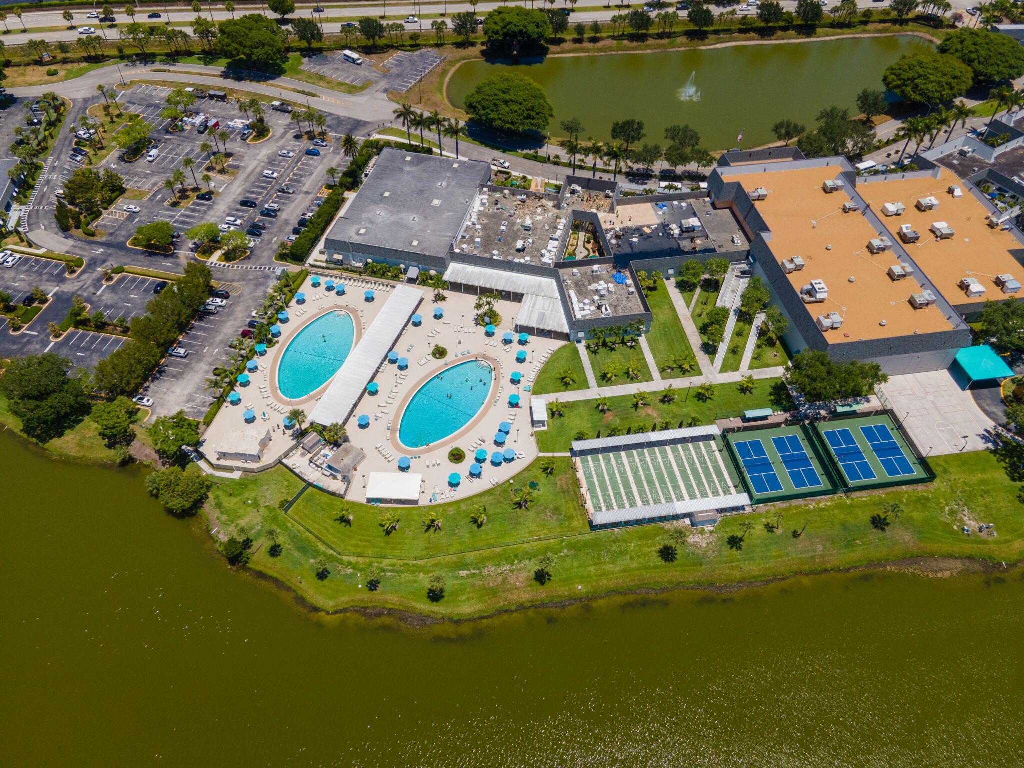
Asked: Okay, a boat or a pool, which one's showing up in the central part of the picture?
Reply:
pool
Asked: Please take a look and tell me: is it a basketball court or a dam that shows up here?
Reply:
basketball court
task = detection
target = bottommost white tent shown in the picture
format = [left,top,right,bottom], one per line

[366,473,423,508]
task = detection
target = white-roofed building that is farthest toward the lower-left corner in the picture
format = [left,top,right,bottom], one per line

[216,428,270,461]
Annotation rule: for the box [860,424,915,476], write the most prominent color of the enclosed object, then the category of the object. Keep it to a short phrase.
blue sports court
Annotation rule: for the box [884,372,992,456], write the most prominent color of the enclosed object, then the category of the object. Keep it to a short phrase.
white basketball court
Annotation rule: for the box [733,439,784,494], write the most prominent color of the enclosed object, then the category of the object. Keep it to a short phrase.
blue sports court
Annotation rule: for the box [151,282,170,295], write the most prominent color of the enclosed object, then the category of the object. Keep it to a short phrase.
black vehicle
